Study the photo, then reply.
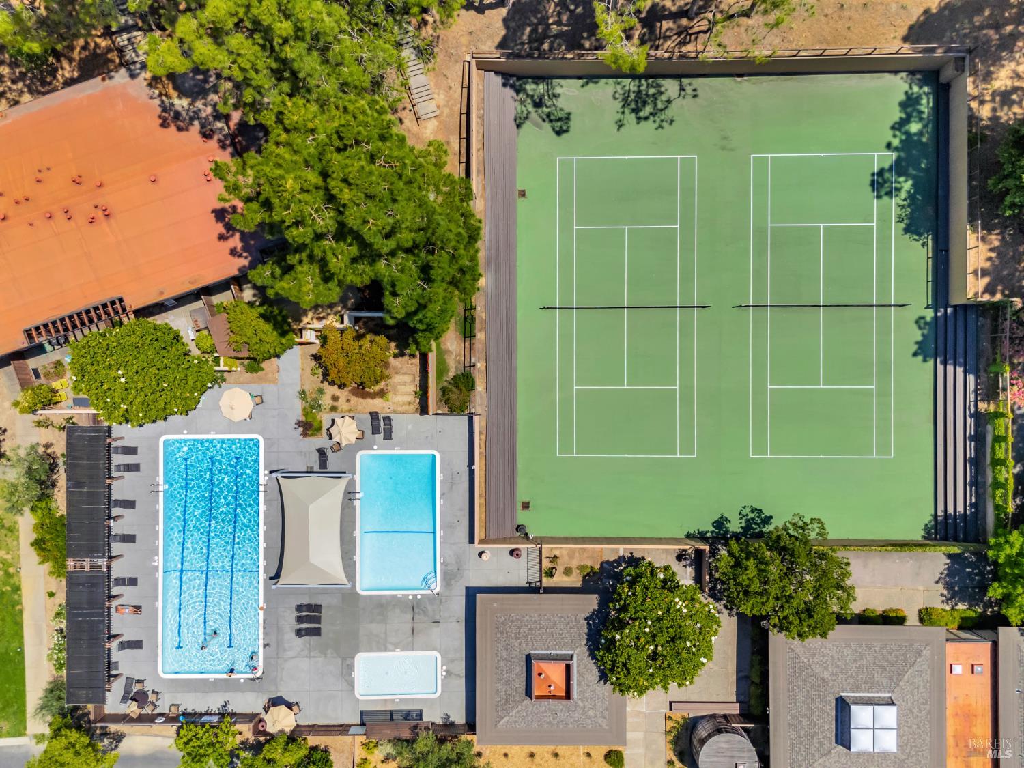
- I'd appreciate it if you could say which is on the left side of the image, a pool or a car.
pool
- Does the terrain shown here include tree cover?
Yes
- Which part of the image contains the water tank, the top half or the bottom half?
bottom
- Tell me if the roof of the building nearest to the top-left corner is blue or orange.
orange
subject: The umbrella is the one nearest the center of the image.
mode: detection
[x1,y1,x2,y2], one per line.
[329,416,360,447]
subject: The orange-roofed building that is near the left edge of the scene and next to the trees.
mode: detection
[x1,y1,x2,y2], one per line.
[0,69,270,357]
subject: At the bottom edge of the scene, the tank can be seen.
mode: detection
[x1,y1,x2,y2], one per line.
[689,714,762,768]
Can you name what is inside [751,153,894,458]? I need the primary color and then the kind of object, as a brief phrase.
green tennis court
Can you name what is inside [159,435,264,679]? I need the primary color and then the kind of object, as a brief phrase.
blue swimming pool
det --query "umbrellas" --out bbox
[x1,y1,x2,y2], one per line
[221,388,254,420]
[329,416,360,447]
[266,700,298,734]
